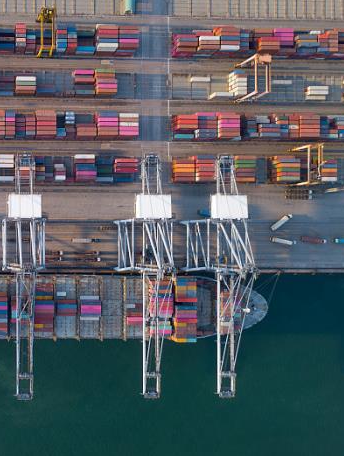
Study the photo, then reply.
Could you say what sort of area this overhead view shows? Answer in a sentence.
The area seen from above is a port.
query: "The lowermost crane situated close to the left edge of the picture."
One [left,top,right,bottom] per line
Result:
[0,154,47,399]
